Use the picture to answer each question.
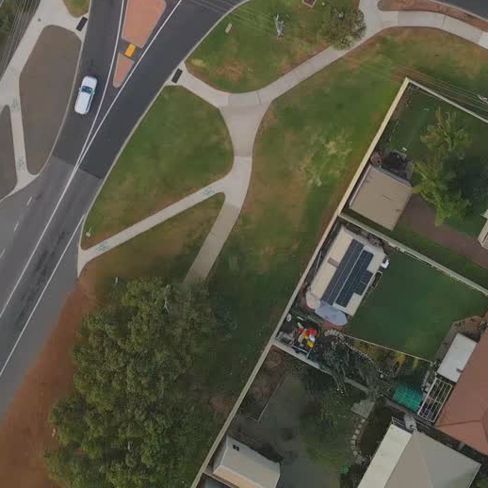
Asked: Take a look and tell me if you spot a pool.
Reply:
No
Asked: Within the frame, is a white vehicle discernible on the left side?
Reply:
Yes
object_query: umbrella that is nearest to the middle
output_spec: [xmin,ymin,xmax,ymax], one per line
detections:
[305,292,321,308]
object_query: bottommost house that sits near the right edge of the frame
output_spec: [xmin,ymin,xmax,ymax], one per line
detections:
[380,426,482,488]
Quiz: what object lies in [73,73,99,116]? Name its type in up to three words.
car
